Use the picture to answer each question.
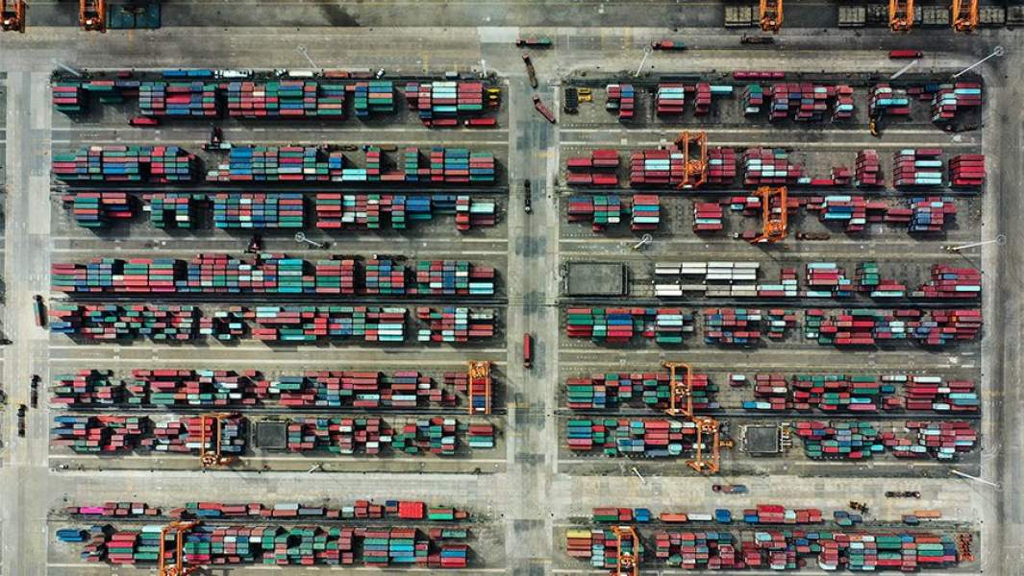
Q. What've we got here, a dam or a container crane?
container crane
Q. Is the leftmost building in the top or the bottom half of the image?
bottom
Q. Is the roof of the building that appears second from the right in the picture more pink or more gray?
gray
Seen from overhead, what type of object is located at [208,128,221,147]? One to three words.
vehicle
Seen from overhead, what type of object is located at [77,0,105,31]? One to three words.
container crane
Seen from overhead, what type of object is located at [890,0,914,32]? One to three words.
container crane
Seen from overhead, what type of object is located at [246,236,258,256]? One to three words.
vehicle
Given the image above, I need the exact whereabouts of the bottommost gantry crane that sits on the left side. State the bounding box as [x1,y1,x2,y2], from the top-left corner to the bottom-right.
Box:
[158,515,208,576]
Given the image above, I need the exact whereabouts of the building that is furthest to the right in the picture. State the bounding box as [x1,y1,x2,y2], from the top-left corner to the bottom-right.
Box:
[743,422,780,454]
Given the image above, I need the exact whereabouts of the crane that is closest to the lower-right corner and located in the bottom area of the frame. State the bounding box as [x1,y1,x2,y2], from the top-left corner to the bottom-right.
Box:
[682,410,720,471]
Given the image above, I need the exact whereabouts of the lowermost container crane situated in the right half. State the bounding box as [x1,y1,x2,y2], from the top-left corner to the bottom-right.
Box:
[613,514,639,576]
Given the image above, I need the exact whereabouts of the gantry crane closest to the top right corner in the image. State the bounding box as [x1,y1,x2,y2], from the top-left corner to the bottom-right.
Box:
[953,0,979,32]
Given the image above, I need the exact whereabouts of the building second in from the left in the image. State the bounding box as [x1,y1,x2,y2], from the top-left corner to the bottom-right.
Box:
[565,261,625,294]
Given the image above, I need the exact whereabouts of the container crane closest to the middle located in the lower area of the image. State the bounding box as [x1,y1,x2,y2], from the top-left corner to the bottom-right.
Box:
[469,357,496,414]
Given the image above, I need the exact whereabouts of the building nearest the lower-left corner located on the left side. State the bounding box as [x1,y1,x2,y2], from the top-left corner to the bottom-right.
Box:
[256,418,291,450]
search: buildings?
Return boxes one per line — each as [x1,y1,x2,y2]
[565,261,625,294]
[256,418,291,450]
[743,422,780,454]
